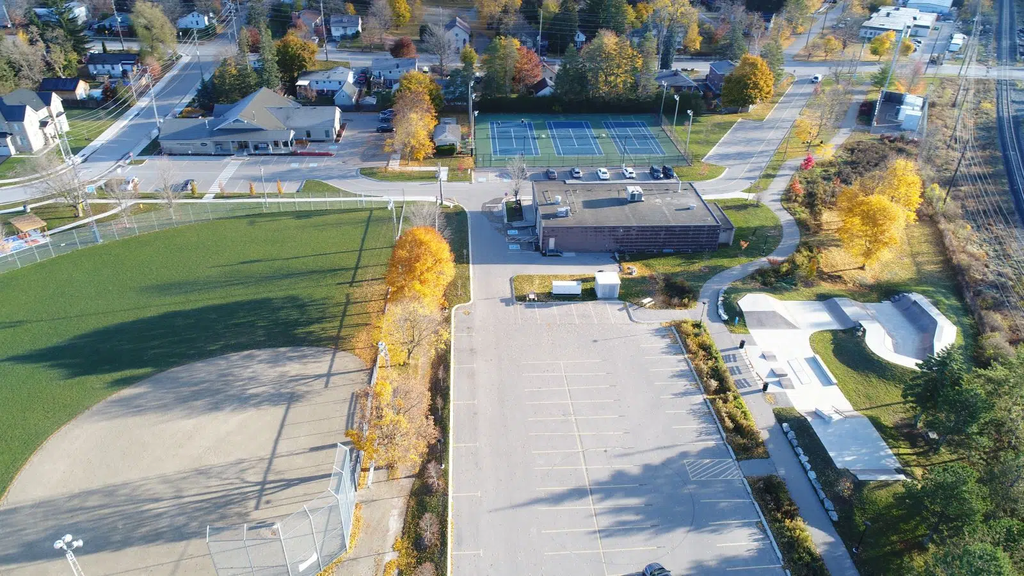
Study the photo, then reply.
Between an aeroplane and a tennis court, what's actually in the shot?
tennis court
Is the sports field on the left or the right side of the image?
left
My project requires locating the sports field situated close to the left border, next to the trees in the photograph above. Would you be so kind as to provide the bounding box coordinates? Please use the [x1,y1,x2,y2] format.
[0,204,401,576]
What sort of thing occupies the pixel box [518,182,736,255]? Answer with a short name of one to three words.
building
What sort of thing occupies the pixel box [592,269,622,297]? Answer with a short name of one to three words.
shed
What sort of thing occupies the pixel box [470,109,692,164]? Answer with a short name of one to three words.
tennis court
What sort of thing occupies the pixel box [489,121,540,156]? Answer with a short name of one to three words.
tennis court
